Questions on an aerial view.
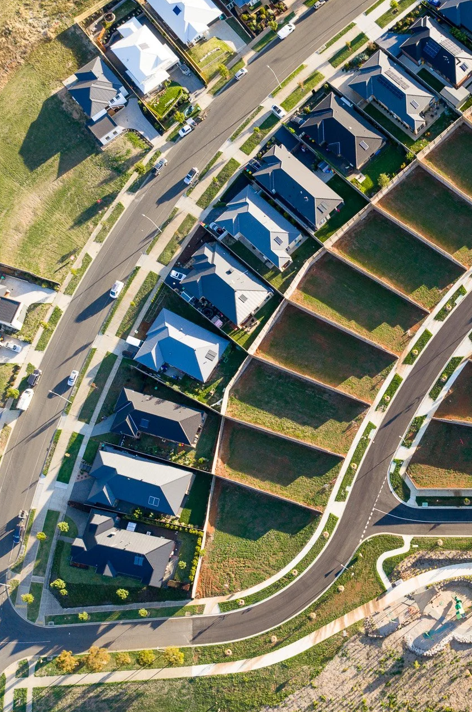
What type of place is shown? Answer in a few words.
residential area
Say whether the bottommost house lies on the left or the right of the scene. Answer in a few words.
left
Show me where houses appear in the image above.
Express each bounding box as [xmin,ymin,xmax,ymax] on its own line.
[132,307,229,384]
[149,0,224,49]
[251,142,342,229]
[0,297,24,324]
[299,90,387,171]
[68,509,178,590]
[437,0,472,37]
[347,52,437,134]
[226,0,263,14]
[214,185,304,272]
[109,387,209,447]
[83,450,194,518]
[178,241,272,328]
[398,12,472,90]
[60,56,134,121]
[110,14,180,98]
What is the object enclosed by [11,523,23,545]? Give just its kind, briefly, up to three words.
vehicle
